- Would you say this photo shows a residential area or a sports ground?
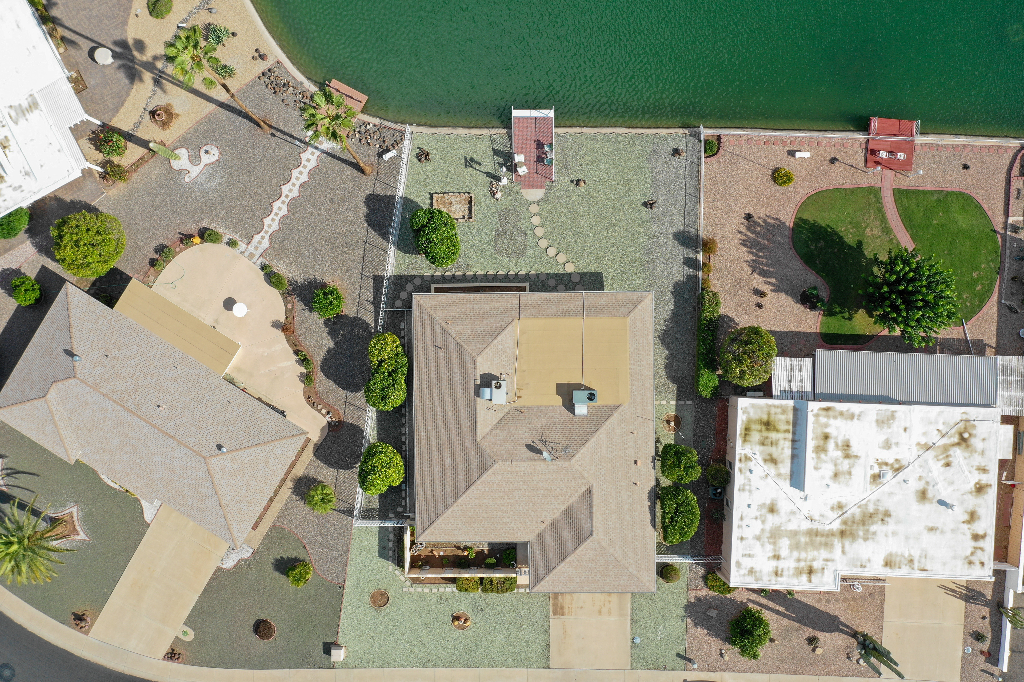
residential area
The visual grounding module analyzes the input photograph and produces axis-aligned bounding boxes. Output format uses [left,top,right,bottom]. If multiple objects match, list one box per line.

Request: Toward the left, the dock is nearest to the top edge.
[311,78,368,131]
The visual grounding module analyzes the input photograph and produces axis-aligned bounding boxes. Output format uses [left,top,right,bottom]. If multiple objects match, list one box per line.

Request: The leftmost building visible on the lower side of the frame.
[0,278,309,550]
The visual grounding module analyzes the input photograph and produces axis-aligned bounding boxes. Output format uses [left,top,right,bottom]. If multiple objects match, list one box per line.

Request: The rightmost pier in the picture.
[866,115,921,170]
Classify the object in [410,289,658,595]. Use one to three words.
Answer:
house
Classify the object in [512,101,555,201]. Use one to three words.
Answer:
pier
